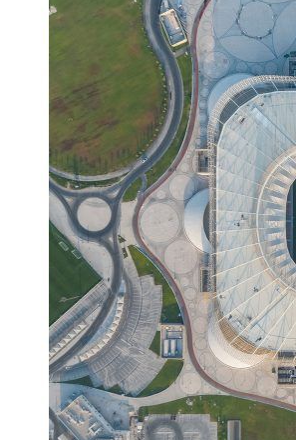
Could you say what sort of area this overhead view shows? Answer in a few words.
sports ground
